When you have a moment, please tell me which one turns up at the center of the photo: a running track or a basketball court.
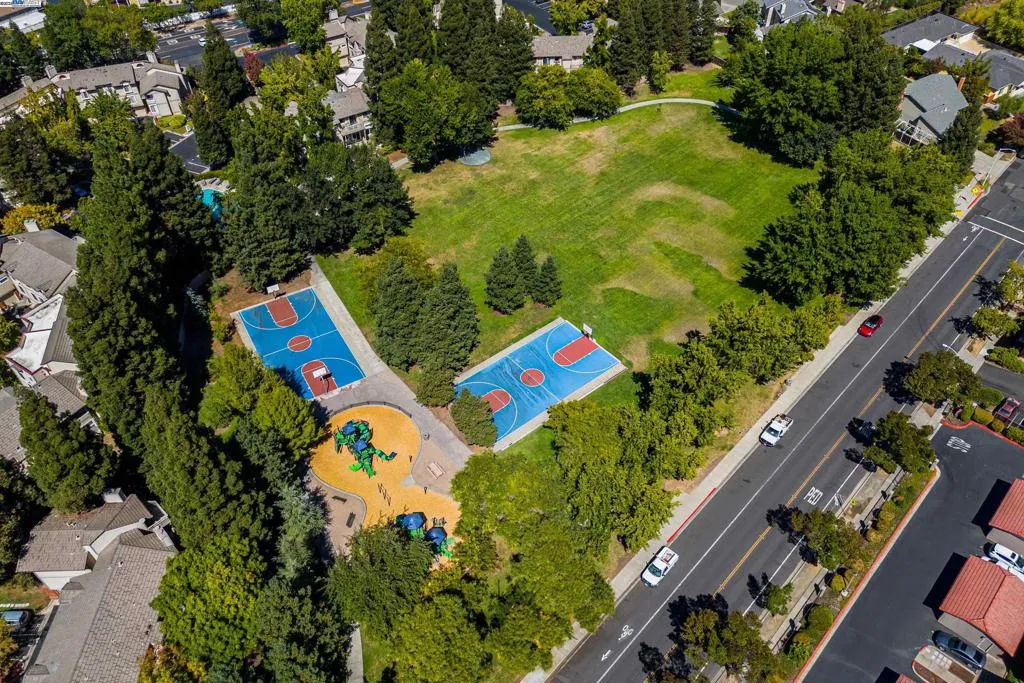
basketball court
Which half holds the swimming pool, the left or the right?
left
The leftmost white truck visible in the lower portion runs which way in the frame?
diagonally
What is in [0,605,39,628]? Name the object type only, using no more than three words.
car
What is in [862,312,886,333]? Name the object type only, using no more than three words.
car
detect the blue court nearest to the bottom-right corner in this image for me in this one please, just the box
[441,316,627,447]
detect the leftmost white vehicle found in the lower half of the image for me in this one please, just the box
[639,543,682,586]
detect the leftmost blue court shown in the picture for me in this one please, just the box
[234,285,366,406]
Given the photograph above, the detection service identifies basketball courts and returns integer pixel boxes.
[234,285,366,406]
[441,316,627,447]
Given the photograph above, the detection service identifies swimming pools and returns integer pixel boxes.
[193,176,238,240]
